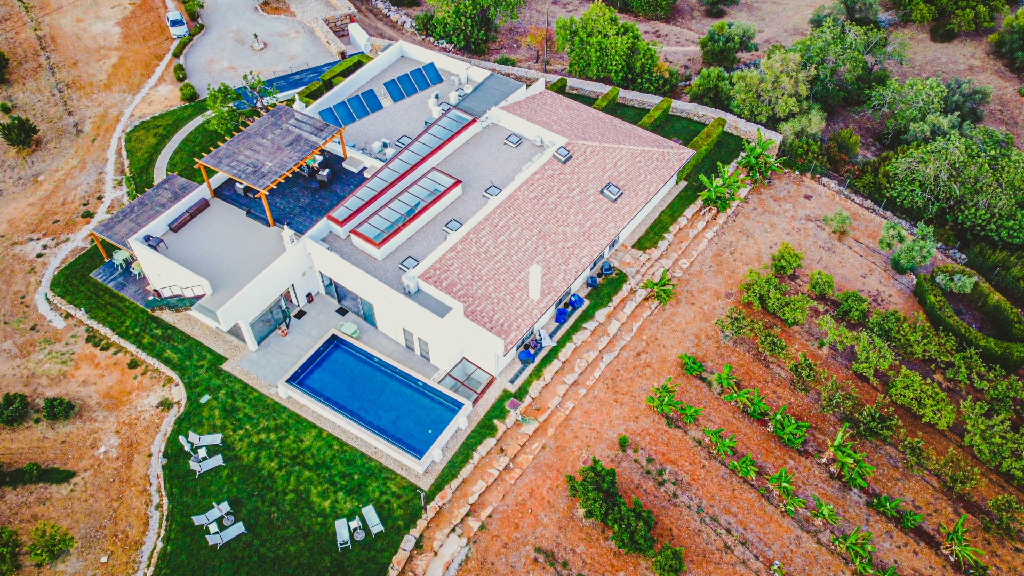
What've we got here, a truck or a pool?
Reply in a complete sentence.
The one in the frame is a pool.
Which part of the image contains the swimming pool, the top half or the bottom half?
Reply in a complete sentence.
It is in the bottom half that the swimming pool appears.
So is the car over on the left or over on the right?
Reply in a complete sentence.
You can find the car on the left side of the picture.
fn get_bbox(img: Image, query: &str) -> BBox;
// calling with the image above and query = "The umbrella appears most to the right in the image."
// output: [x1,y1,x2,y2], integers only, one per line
[354,517,366,540]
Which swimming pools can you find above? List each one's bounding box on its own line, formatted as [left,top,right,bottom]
[277,329,472,473]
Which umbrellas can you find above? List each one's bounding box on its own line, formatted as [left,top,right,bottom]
[215,504,235,526]
[354,517,366,540]
[180,441,202,460]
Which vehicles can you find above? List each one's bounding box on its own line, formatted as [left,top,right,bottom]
[162,7,190,36]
